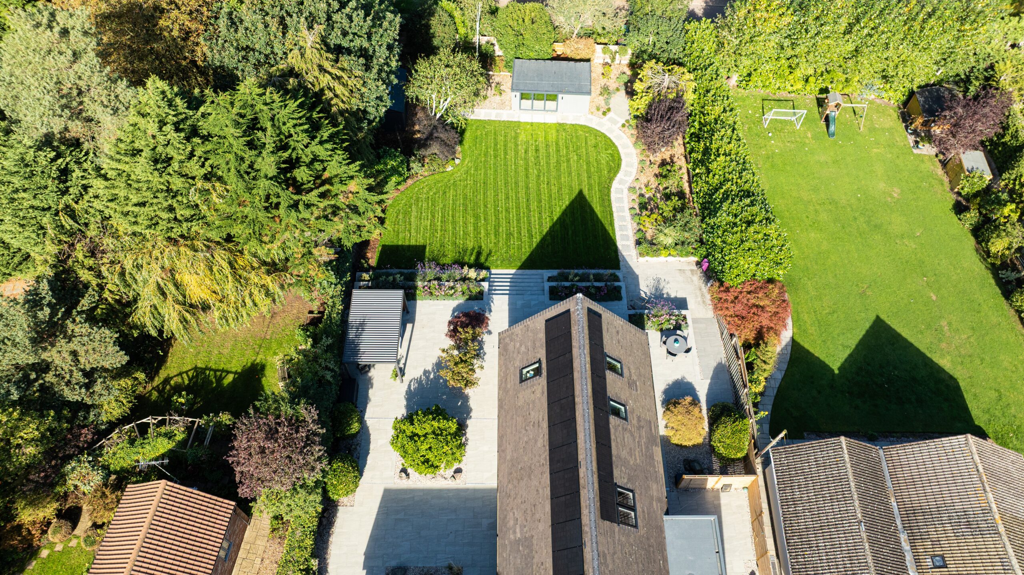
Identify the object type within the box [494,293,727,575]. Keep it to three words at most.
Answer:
house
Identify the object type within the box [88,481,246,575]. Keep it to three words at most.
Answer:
building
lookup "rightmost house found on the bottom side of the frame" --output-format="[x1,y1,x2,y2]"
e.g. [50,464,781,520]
[760,434,1024,575]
